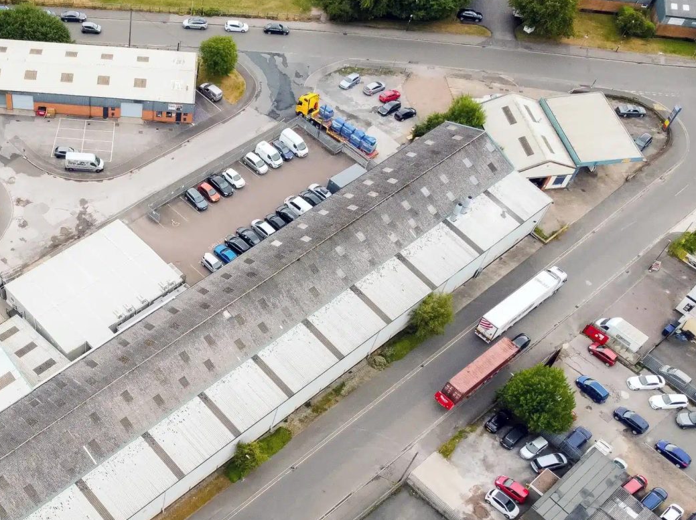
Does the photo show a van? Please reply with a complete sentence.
Yes, the image includes a van.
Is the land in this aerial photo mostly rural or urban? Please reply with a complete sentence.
From above, the setting appears urban.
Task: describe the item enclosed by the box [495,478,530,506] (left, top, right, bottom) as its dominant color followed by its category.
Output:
red car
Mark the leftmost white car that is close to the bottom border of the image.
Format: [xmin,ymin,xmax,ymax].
[484,492,521,520]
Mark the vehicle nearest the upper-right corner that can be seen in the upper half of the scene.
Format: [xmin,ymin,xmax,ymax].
[615,105,645,119]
